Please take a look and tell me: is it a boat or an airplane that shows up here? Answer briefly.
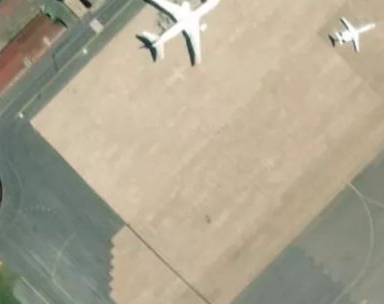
airplane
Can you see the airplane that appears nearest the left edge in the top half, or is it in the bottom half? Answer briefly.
top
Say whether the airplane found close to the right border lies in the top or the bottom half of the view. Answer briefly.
top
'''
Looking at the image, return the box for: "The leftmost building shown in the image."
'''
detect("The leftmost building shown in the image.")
[0,11,68,96]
